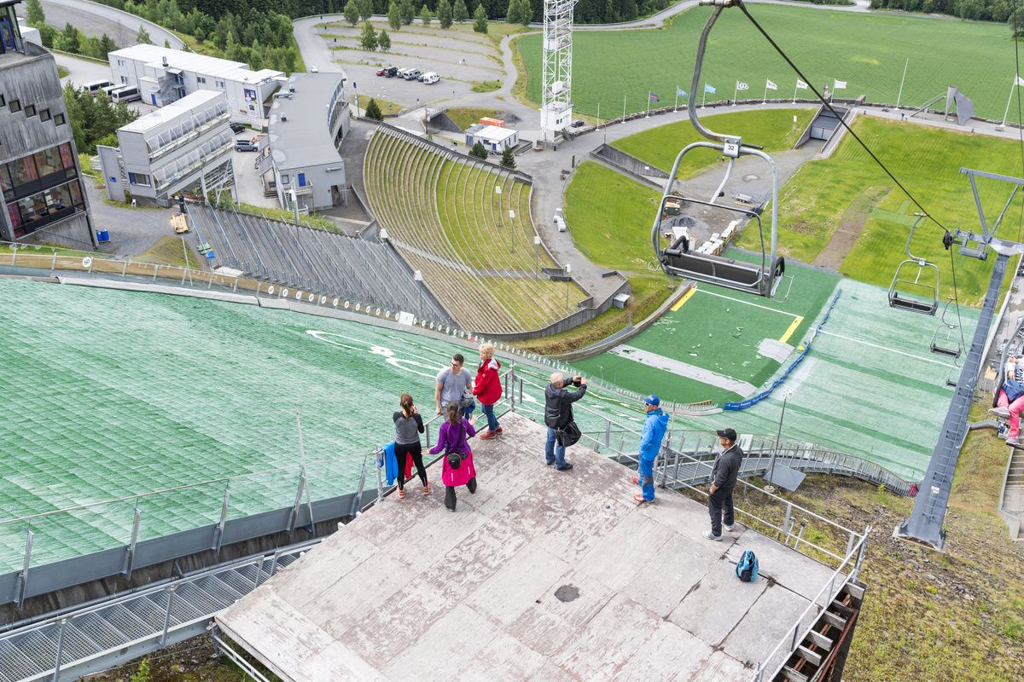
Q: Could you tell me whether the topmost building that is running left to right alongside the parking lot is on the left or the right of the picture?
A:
left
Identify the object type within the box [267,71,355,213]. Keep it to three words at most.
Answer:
building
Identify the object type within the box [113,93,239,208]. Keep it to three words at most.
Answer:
building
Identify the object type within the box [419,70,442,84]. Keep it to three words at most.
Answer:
vehicle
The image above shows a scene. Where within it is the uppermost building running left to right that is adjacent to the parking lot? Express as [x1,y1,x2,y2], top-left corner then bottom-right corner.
[106,40,295,125]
